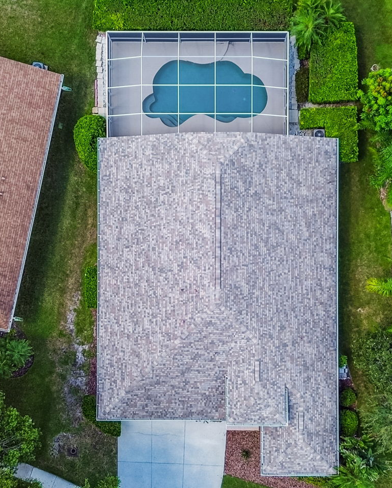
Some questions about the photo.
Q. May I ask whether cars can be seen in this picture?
No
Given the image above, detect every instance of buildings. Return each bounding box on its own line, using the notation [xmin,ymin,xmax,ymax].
[95,130,341,478]
[0,56,66,333]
